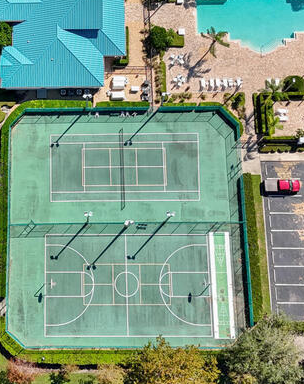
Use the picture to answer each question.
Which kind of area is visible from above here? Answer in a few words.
sports ground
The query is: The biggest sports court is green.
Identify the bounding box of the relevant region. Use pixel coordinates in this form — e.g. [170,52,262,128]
[9,113,249,345]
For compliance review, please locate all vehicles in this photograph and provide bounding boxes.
[263,178,300,193]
